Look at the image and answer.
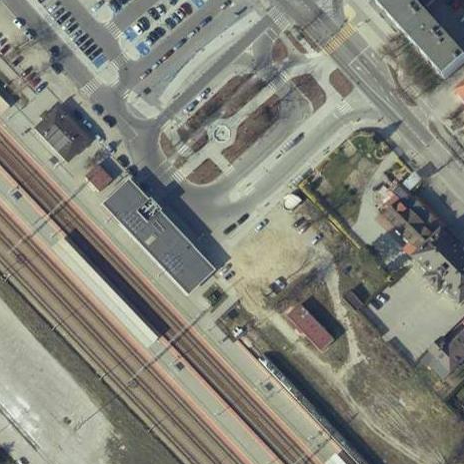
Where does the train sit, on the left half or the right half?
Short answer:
right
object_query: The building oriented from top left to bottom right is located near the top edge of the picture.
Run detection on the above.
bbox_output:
[374,0,463,76]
